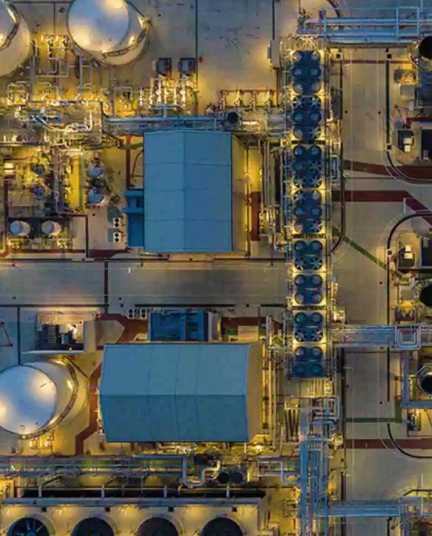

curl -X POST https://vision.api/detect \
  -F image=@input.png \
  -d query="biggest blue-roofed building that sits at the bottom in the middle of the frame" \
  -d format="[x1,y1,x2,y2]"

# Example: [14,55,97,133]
[97,343,265,450]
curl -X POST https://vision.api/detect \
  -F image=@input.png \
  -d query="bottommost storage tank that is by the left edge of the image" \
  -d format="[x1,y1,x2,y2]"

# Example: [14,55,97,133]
[0,357,89,441]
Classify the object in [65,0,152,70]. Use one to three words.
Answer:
storage tank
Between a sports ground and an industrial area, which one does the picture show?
industrial area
